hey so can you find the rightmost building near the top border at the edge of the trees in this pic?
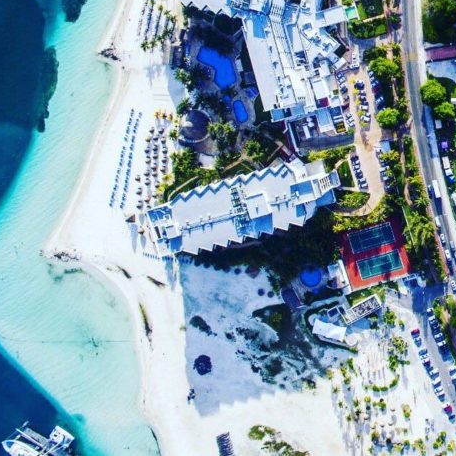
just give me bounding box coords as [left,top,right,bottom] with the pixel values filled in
[289,0,362,115]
